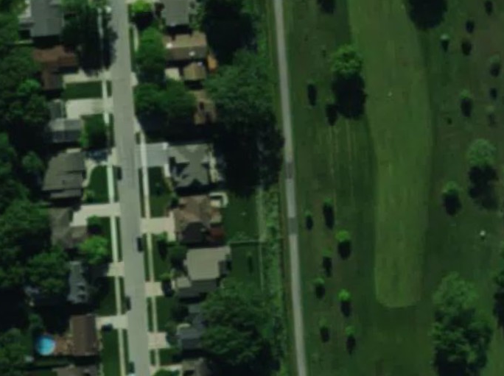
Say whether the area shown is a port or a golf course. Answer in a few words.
golf course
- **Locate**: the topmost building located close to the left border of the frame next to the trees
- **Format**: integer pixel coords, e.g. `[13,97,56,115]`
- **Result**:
[18,0,64,39]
